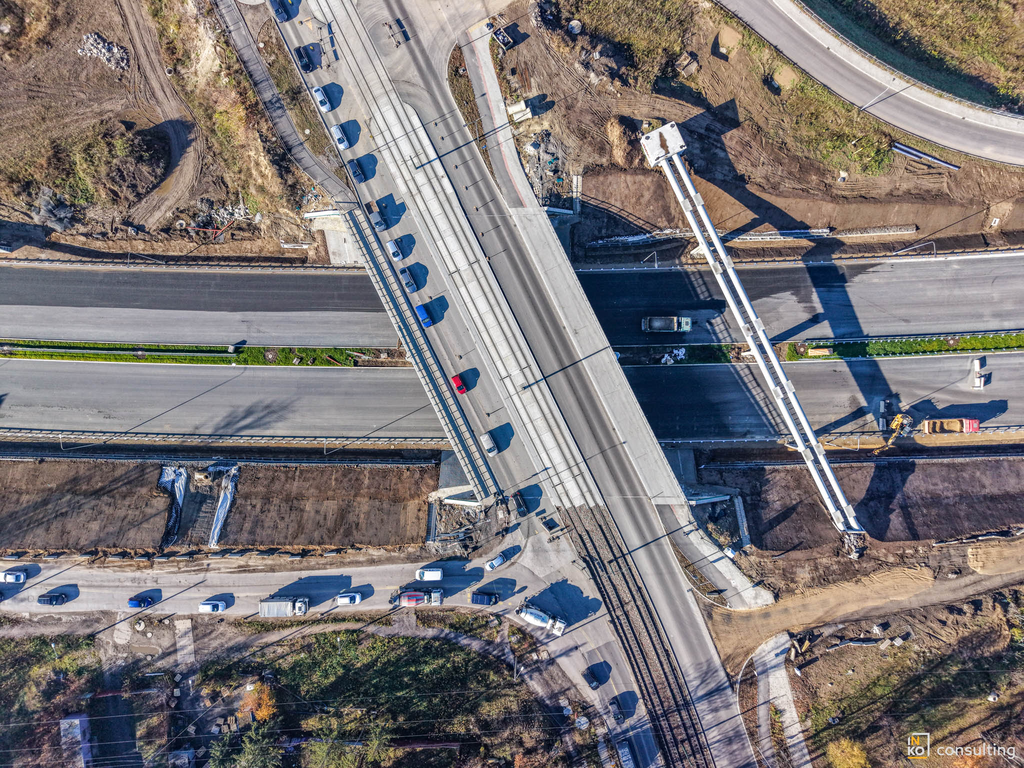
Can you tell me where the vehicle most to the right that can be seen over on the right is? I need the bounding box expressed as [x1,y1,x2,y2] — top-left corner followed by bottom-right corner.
[918,416,981,435]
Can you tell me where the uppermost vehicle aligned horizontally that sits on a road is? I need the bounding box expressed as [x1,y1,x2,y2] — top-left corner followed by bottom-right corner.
[641,315,692,334]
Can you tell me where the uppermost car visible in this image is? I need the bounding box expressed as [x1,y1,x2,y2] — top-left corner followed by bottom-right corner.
[269,0,290,25]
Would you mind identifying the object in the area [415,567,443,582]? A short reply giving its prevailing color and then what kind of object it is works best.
white vehicle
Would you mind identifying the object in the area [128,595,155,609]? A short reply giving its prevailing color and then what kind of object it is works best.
blue car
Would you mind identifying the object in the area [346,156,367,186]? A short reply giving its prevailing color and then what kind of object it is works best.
blue car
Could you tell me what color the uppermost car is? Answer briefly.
blue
